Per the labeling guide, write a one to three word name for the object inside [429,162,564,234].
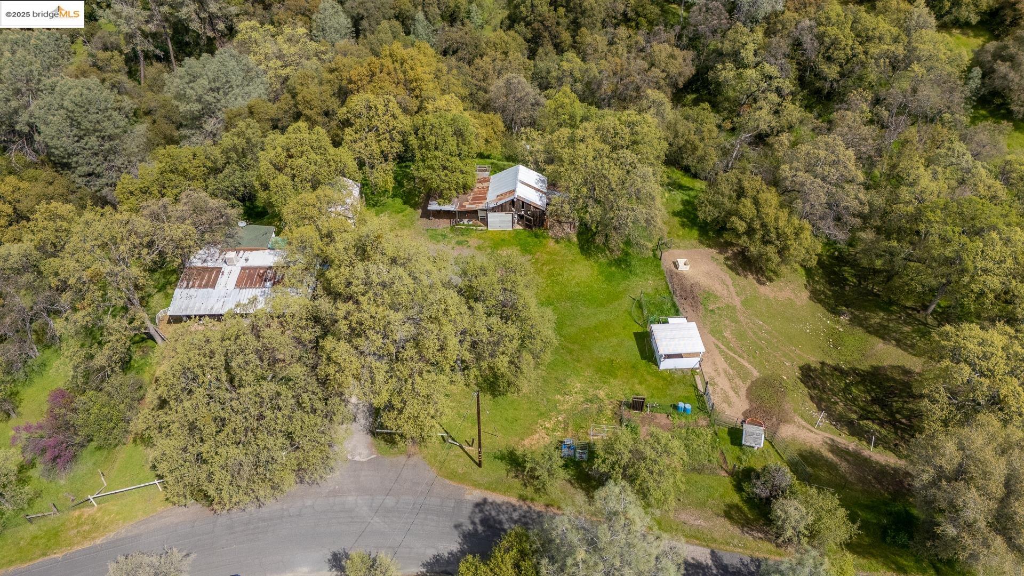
barn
